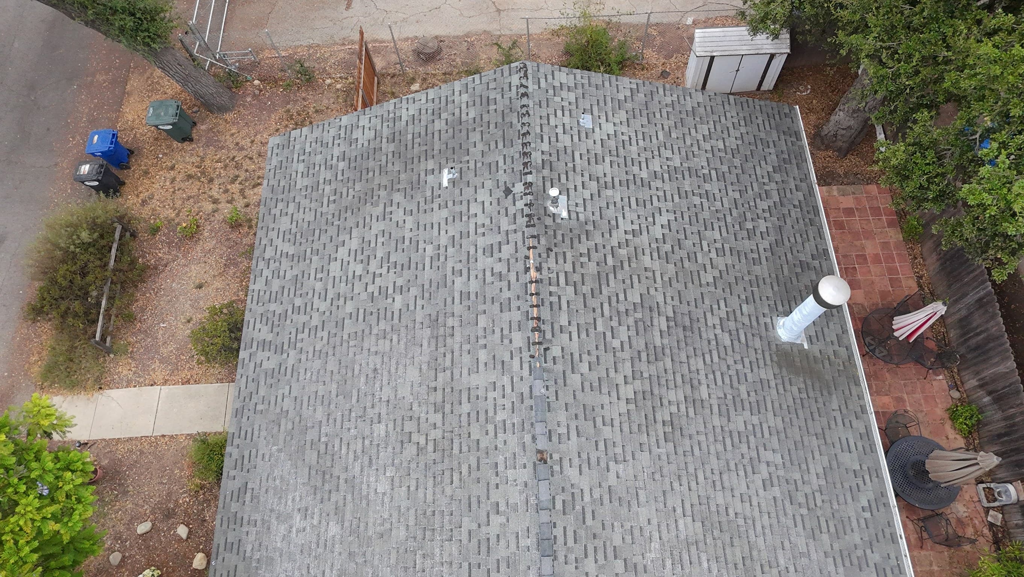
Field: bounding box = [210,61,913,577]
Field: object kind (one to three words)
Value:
house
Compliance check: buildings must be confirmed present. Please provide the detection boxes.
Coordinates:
[685,18,793,89]
[210,61,913,577]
